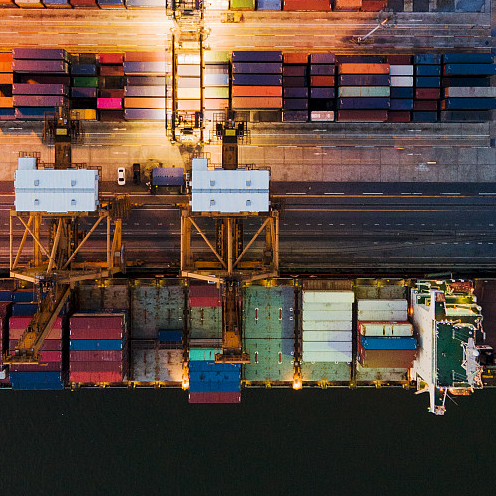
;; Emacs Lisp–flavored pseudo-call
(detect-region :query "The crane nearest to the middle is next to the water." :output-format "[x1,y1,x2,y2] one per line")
[162,105,293,360]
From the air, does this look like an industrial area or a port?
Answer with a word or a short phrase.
port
